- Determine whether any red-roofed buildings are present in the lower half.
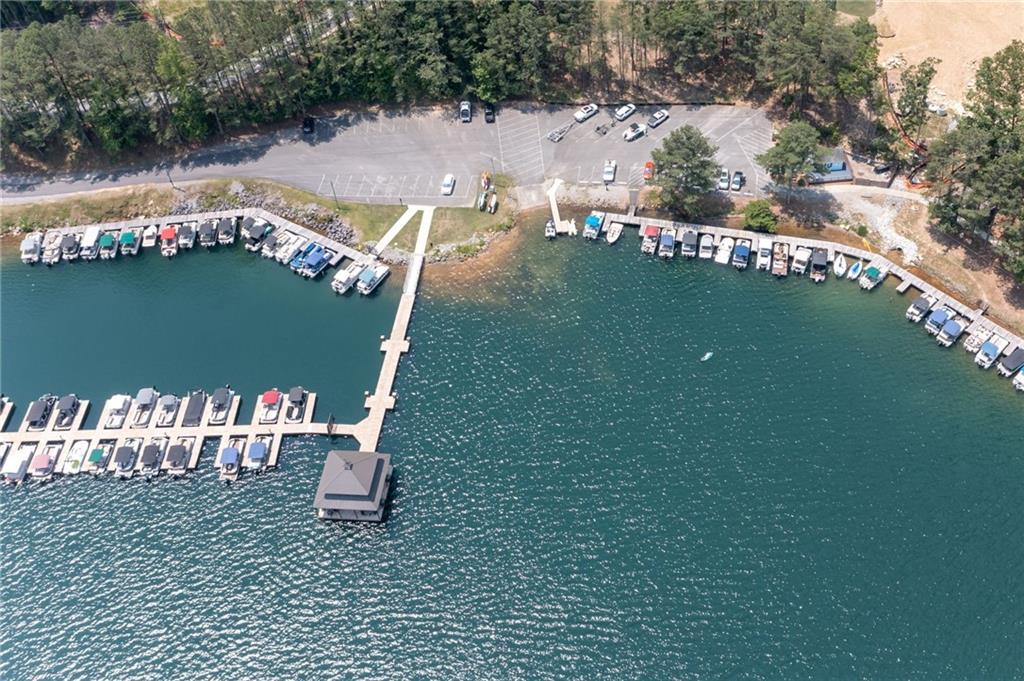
No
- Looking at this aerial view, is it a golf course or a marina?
marina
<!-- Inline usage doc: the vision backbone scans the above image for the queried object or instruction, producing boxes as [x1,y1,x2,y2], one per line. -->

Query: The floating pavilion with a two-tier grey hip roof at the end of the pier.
[314,449,390,521]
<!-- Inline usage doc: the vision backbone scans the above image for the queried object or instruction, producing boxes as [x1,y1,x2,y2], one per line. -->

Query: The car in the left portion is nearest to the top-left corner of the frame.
[302,113,314,134]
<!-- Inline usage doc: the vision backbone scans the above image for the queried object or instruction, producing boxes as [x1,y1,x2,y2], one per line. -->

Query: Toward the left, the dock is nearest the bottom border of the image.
[0,393,316,473]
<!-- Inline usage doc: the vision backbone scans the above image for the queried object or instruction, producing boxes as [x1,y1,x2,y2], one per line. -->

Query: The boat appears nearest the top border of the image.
[622,118,648,139]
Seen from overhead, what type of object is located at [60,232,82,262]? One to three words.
boat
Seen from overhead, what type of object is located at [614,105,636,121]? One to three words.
car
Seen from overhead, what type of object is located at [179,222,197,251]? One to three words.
boat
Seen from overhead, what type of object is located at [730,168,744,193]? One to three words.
vehicle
